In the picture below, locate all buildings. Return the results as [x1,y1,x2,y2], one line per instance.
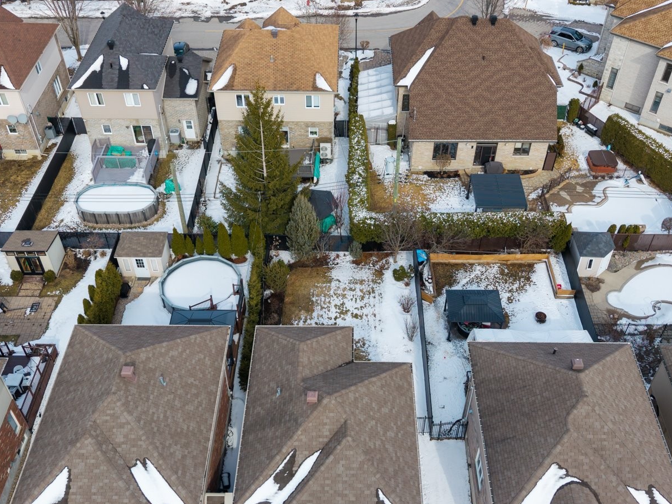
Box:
[0,4,71,159]
[233,326,425,504]
[571,232,616,277]
[208,5,339,160]
[389,8,563,172]
[70,3,209,159]
[460,342,672,504]
[590,0,672,133]
[114,230,169,277]
[13,325,236,504]
[1,231,63,274]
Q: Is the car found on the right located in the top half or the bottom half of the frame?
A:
top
